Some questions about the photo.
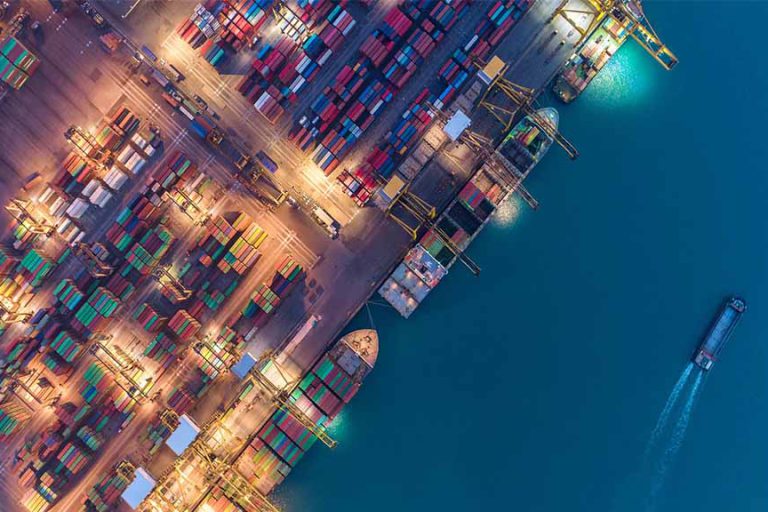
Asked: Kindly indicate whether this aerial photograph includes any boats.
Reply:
Yes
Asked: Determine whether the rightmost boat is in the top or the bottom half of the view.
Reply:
bottom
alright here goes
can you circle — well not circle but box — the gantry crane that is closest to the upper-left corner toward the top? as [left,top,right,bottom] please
[68,129,122,171]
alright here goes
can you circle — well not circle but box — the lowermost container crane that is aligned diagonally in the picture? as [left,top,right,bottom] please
[158,404,290,512]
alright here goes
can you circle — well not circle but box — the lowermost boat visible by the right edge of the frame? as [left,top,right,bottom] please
[694,298,743,372]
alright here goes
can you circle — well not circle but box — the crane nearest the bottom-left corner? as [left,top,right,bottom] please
[7,373,64,415]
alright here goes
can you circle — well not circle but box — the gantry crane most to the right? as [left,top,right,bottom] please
[545,0,679,71]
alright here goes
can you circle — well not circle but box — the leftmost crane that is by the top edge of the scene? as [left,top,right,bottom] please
[217,1,263,50]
